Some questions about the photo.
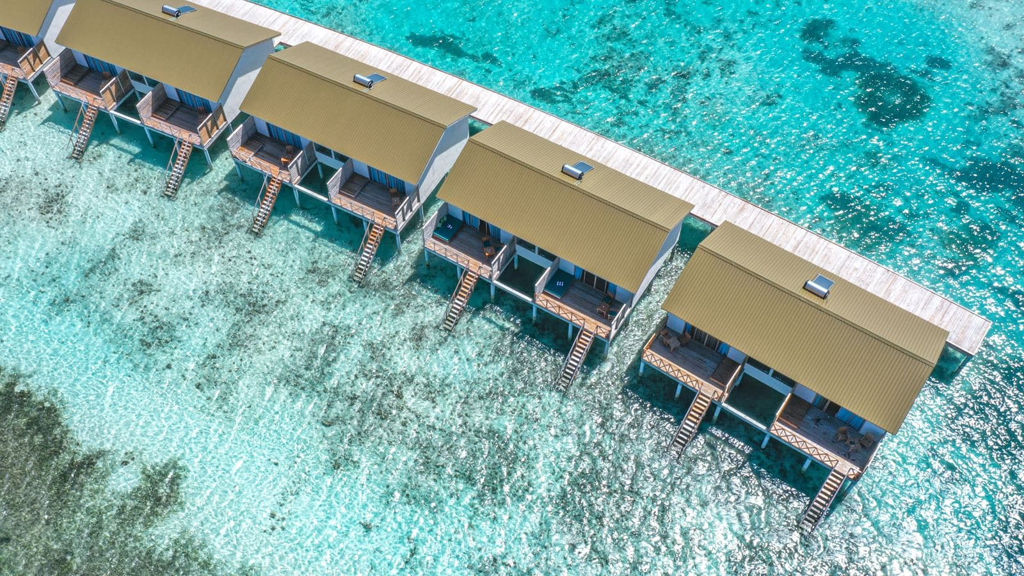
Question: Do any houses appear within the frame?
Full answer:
Yes, there's a house here.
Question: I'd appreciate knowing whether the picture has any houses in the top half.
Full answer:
Yes, you'll find a house in the top half.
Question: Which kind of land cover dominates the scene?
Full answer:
The bulk of the photo consists of water.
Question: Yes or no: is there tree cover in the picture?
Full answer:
No, the picture contains no tree cover.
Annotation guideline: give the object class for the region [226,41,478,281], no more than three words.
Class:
house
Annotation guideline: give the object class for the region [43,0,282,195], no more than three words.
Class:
house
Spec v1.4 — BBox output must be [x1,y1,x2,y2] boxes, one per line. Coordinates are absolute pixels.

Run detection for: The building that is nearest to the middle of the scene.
[422,120,694,392]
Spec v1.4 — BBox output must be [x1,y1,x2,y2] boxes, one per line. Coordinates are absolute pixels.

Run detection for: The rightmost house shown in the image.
[640,221,948,538]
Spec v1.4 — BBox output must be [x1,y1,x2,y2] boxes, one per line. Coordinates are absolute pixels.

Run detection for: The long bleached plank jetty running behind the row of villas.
[188,0,994,370]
